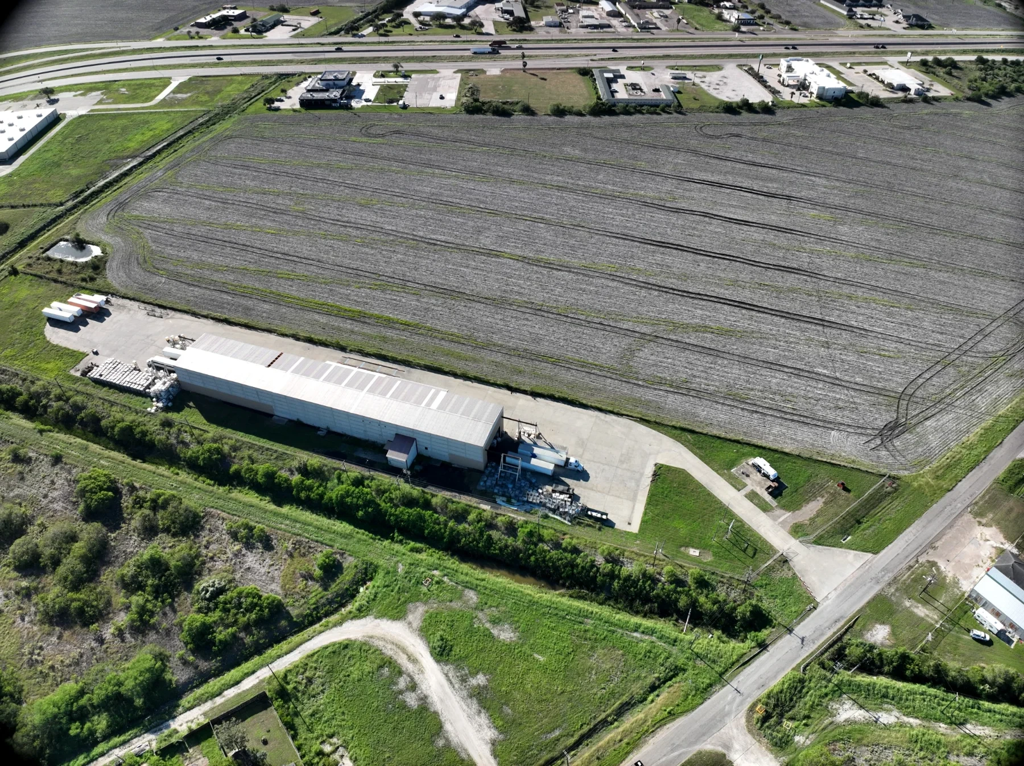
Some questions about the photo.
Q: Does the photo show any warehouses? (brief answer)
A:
Yes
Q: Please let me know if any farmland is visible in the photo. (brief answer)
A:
Yes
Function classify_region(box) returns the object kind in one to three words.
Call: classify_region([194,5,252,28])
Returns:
building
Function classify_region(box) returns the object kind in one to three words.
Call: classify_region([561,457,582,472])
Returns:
vehicle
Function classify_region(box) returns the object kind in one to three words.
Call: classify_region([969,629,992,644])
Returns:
vehicle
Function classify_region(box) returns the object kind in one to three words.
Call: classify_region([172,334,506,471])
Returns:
warehouse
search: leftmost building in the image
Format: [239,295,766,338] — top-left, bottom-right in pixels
[0,106,56,160]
